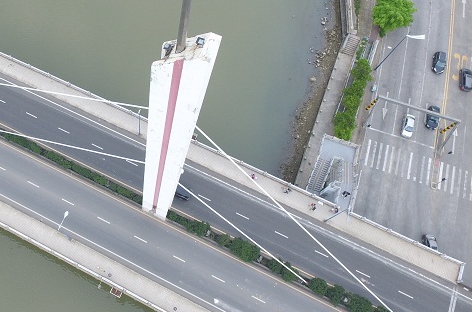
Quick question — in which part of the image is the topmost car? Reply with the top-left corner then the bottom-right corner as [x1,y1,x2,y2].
[430,49,446,74]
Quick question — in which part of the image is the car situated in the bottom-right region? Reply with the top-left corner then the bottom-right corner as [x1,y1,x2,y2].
[423,231,440,249]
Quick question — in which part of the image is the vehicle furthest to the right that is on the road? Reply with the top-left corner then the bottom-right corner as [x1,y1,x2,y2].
[457,68,472,92]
